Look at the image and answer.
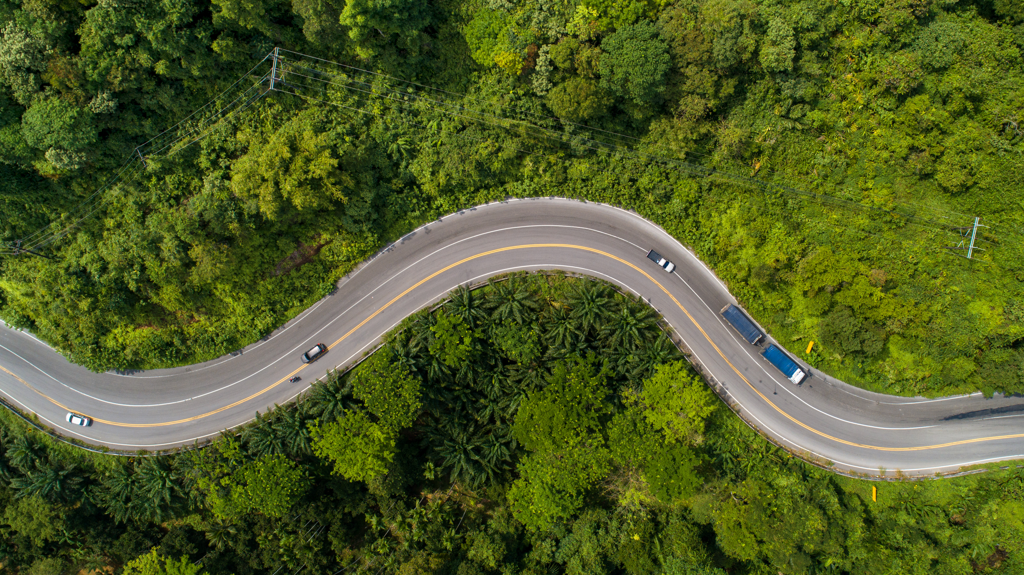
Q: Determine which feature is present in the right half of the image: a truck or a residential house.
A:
truck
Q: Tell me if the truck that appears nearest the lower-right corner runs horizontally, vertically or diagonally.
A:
diagonally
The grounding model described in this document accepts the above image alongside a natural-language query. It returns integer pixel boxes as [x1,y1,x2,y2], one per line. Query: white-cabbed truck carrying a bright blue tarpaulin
[757,342,804,383]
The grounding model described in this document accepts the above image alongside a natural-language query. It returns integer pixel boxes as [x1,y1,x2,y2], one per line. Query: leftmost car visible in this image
[66,413,91,427]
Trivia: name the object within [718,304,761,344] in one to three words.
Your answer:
trailer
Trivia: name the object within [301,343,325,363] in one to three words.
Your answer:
car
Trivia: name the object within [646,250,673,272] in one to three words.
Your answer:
truck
